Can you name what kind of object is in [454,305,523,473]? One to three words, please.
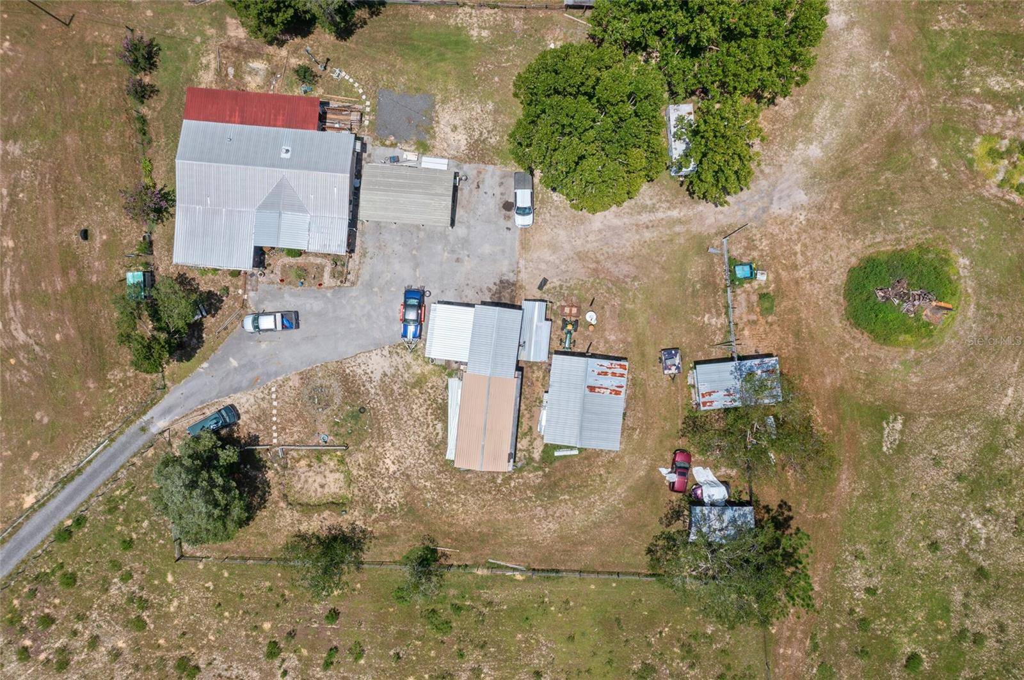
building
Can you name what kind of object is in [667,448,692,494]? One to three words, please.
car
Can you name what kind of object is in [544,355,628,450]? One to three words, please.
shed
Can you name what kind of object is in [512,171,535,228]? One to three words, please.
truck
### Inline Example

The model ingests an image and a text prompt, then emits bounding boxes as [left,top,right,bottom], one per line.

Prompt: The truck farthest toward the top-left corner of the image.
[243,311,301,335]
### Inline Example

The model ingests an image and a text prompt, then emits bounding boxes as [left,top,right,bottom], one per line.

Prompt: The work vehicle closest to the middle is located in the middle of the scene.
[560,320,578,353]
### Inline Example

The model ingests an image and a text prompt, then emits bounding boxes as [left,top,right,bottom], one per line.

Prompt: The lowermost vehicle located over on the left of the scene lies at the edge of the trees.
[184,403,243,440]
